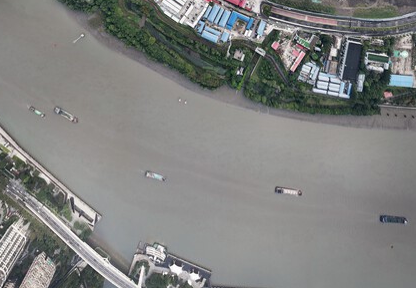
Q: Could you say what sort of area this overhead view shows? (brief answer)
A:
port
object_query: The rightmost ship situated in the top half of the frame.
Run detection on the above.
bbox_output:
[54,106,78,123]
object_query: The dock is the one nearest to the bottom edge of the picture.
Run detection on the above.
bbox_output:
[155,254,212,287]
